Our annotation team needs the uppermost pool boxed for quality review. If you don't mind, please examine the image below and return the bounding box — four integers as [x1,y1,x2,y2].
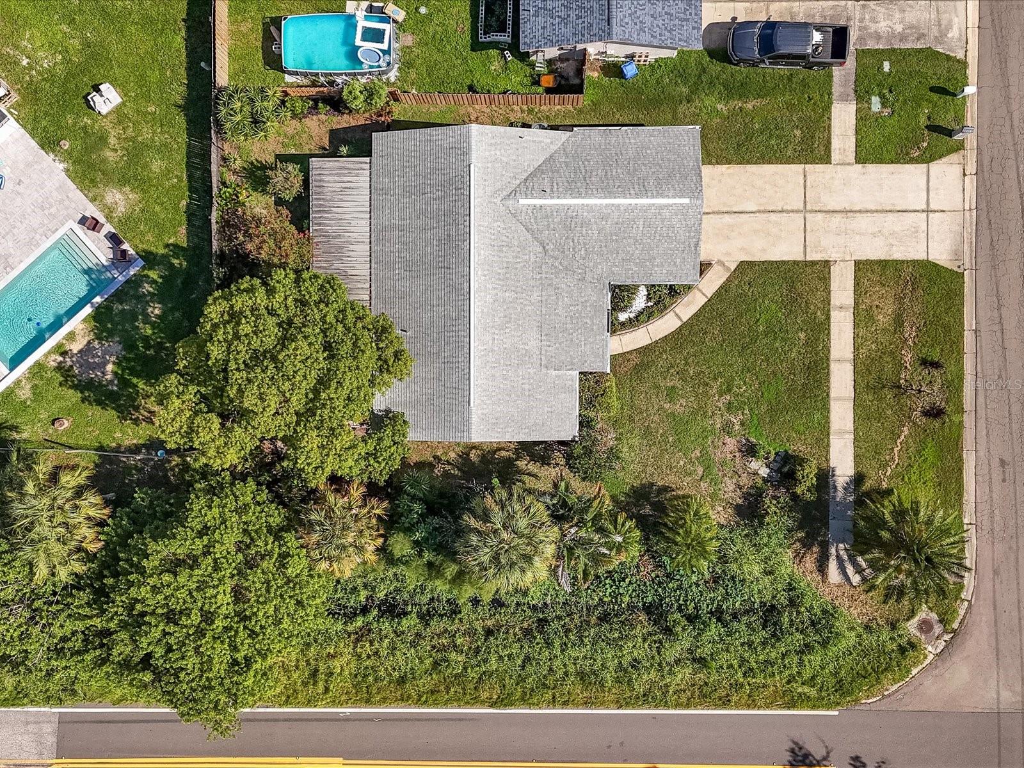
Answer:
[282,11,403,89]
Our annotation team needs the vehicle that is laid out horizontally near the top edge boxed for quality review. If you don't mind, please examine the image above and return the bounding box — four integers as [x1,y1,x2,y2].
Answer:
[726,15,853,72]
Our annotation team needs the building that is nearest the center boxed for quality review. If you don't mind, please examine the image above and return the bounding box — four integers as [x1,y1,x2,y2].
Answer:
[371,122,705,444]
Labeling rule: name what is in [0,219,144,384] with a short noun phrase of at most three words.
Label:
swimming pool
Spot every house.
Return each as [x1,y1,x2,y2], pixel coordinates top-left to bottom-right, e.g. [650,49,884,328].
[371,122,705,444]
[519,0,703,59]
